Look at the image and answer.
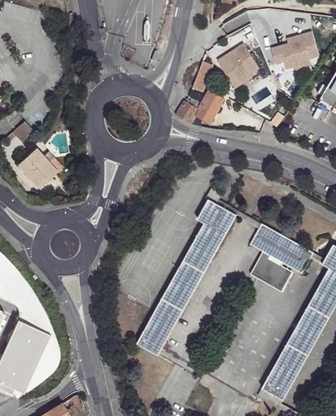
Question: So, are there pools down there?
Yes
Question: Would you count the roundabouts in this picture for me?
2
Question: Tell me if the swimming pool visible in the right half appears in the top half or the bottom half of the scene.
top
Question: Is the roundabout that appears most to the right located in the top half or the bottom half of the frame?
top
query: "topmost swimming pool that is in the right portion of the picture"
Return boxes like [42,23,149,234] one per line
[251,86,272,106]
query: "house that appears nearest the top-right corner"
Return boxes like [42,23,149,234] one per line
[271,30,318,70]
